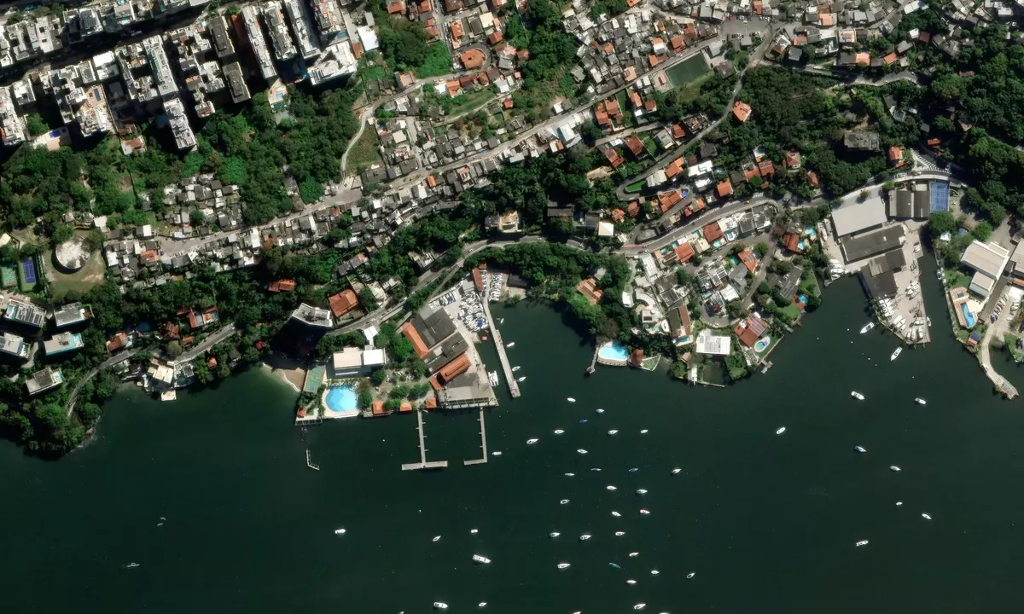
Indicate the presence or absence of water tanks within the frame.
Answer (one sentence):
Yes, there's a water tank down there.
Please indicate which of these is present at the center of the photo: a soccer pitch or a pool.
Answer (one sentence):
Looking at the center of the photo, you will find a pool.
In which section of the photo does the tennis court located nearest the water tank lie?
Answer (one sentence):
The tennis court located nearest the water tank sits in the left section of the image.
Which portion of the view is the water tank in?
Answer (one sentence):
Look in the left portion of the view to spot the water tank.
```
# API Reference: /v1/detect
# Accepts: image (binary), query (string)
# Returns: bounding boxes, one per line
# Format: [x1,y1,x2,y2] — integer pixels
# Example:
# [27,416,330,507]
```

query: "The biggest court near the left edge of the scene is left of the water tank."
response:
[18,256,40,292]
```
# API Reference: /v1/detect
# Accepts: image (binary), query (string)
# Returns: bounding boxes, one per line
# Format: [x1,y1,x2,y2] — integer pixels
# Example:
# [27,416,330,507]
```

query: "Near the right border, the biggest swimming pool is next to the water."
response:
[950,288,981,328]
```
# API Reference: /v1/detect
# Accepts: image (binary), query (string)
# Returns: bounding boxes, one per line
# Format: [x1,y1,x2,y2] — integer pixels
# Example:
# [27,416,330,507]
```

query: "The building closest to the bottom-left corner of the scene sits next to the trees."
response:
[26,367,63,396]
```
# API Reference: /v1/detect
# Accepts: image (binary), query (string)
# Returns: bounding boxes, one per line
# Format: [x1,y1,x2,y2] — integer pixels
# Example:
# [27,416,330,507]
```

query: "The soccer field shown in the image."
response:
[665,50,711,89]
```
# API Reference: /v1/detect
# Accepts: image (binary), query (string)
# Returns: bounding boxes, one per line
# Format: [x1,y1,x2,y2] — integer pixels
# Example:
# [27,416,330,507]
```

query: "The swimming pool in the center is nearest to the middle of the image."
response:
[597,342,629,366]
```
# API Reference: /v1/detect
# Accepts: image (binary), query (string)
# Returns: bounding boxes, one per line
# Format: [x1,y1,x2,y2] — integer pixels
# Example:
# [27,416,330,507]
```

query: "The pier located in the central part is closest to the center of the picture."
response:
[483,297,520,397]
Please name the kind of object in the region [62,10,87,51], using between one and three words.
building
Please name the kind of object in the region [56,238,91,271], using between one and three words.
water tank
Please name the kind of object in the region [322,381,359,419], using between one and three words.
swimming pool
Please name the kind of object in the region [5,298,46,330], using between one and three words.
house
